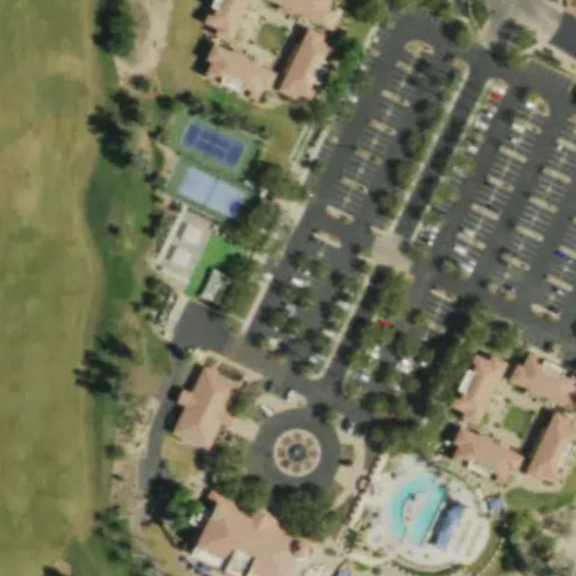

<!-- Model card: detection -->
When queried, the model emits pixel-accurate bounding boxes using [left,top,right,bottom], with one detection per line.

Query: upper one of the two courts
[169,111,262,173]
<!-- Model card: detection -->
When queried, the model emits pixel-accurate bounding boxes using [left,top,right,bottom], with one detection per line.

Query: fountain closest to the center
[289,443,306,462]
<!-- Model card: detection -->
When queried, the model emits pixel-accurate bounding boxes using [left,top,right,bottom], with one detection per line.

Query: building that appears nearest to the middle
[197,265,230,305]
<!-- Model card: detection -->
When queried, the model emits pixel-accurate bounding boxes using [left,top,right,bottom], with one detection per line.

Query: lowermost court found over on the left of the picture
[164,147,247,223]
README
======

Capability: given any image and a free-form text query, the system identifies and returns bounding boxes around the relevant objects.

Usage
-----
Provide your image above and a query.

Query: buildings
[526,412,576,487]
[449,427,524,486]
[203,0,254,44]
[510,352,576,411]
[197,265,230,305]
[264,0,337,28]
[203,45,277,104]
[173,367,248,450]
[279,30,338,104]
[450,353,509,426]
[190,491,302,576]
